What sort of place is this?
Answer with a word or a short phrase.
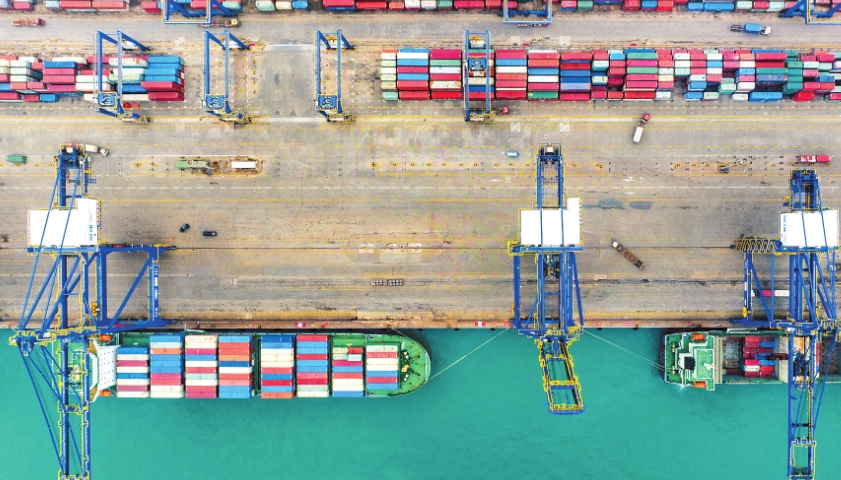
port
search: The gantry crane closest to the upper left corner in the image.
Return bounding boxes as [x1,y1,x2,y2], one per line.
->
[92,30,158,122]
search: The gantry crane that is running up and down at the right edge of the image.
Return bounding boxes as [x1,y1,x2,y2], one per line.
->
[729,169,841,480]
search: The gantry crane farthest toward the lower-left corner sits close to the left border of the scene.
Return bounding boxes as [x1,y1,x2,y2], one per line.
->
[8,145,173,480]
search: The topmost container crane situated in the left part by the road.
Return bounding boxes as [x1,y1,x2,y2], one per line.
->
[162,0,237,25]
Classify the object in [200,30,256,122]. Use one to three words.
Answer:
container crane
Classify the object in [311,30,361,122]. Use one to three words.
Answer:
container crane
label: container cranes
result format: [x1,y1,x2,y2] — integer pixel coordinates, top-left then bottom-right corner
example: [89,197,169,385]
[729,169,841,480]
[311,30,361,122]
[200,30,256,122]
[92,30,158,122]
[782,0,841,25]
[499,0,554,25]
[459,30,499,122]
[162,0,237,25]
[8,145,173,480]
[506,147,583,417]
